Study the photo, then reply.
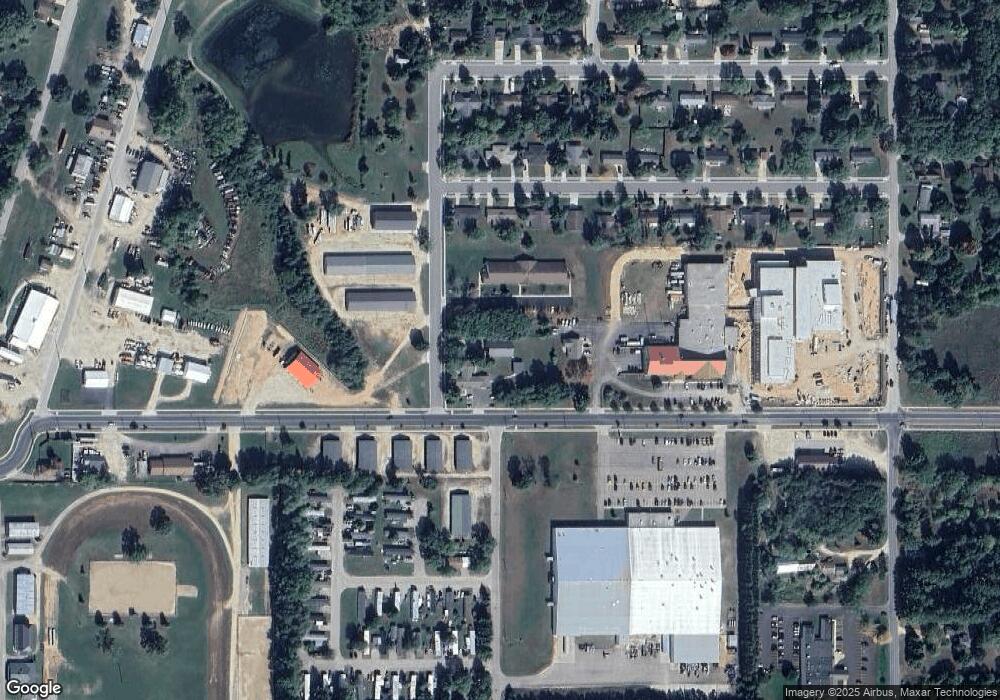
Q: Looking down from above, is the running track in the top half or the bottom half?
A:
bottom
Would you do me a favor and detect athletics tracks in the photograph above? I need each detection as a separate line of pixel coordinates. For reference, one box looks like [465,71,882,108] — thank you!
[36,486,236,700]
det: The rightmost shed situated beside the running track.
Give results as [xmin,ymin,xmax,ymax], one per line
[248,498,270,567]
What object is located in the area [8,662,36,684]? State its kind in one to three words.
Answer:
shed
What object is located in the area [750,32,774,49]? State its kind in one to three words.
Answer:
house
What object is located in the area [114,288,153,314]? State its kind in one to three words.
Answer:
barn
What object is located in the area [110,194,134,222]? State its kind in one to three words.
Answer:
building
